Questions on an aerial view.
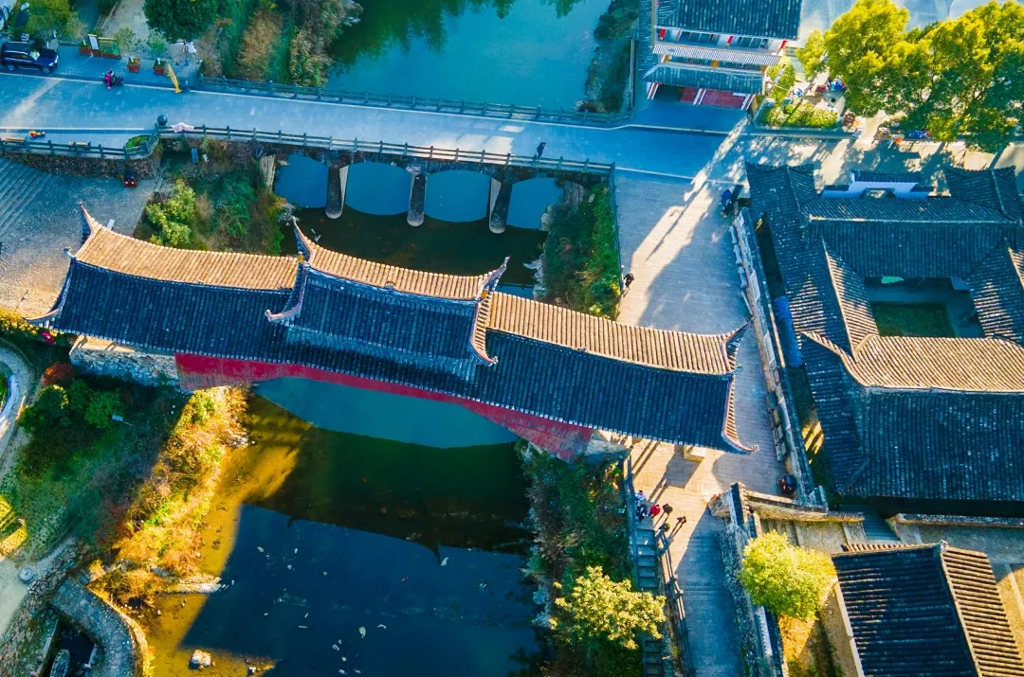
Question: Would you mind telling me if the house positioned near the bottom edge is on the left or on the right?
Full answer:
The house positioned near the bottom edge sits on the right side.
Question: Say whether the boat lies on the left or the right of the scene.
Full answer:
The boat appears in the left half of the scene.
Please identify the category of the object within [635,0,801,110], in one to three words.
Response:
building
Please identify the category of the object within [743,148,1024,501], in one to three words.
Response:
house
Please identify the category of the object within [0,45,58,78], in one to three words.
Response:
car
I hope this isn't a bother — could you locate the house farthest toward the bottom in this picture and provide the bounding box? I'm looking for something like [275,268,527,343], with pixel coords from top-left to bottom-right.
[837,539,1020,677]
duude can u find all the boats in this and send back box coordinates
[46,630,74,677]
